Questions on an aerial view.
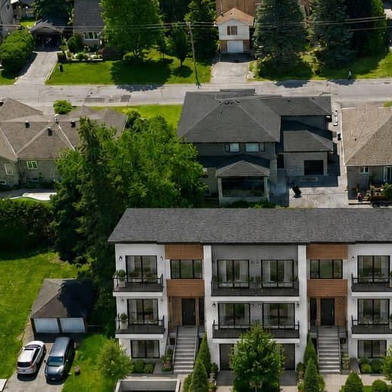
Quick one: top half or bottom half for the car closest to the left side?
bottom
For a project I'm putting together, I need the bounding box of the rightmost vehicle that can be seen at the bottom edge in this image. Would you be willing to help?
[41,332,76,380]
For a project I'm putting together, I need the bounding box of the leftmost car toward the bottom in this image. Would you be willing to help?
[14,338,49,376]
